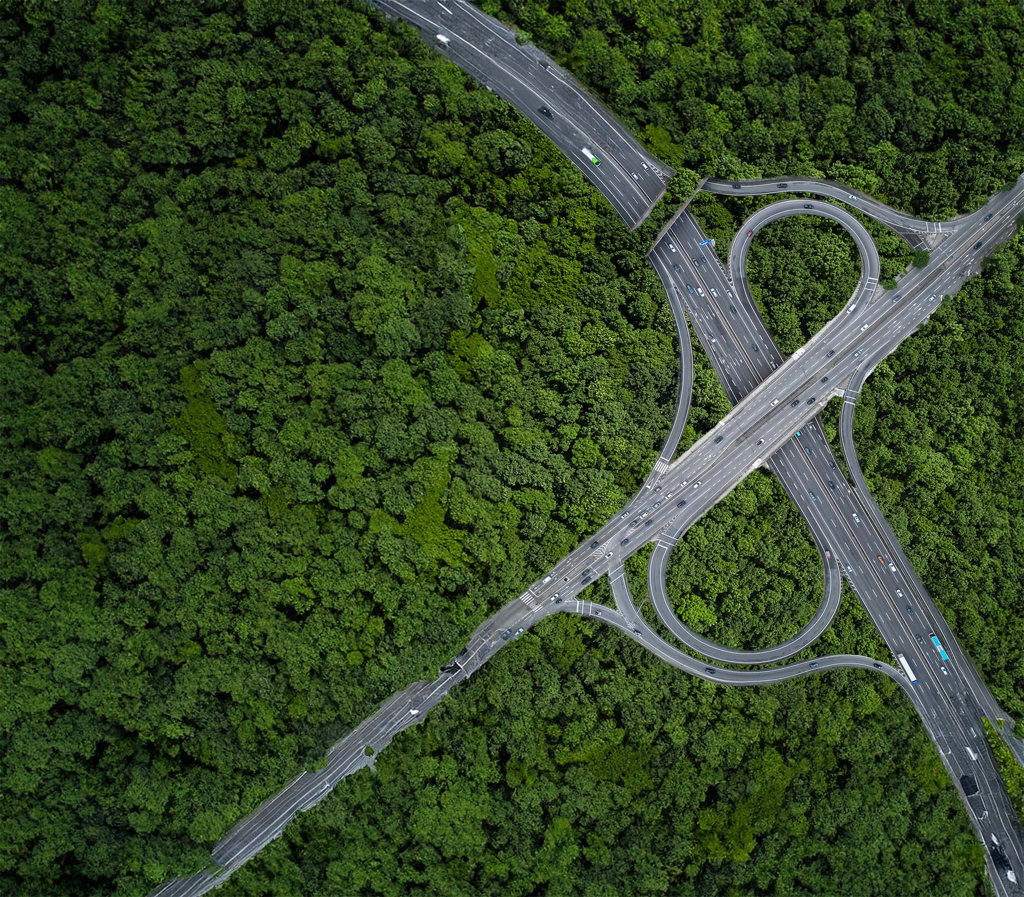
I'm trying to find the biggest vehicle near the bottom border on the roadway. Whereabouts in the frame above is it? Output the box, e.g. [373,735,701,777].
[995,847,1014,884]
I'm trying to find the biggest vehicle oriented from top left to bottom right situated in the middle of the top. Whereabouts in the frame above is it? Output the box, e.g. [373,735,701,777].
[582,145,600,166]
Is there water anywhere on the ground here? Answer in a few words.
No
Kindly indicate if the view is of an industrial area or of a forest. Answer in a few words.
forest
